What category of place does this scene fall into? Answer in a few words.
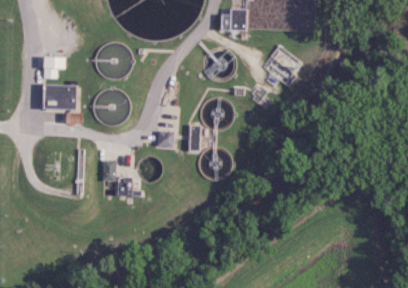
industrial area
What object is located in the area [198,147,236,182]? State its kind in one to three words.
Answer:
storage tank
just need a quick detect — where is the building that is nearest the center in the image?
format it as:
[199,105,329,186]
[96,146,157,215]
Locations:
[188,126,202,154]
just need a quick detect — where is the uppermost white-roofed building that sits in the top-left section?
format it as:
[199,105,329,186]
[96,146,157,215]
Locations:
[43,57,66,70]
